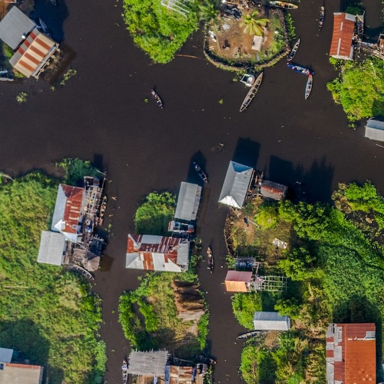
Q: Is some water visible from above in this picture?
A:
Yes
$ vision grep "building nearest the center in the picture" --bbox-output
[174,181,202,221]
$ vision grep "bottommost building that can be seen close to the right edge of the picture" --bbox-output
[327,323,380,384]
